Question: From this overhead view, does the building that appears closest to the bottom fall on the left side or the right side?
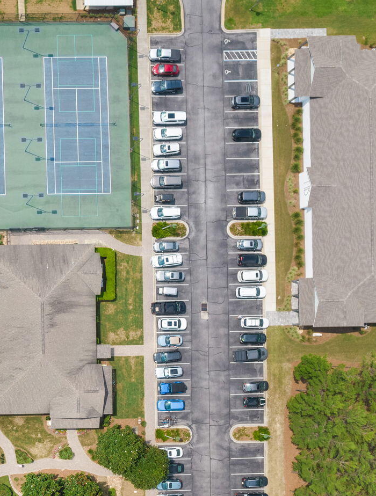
left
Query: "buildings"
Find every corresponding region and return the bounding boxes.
[82,0,133,14]
[286,34,376,326]
[0,244,113,428]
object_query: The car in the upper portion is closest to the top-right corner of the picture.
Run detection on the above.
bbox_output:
[230,96,259,110]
